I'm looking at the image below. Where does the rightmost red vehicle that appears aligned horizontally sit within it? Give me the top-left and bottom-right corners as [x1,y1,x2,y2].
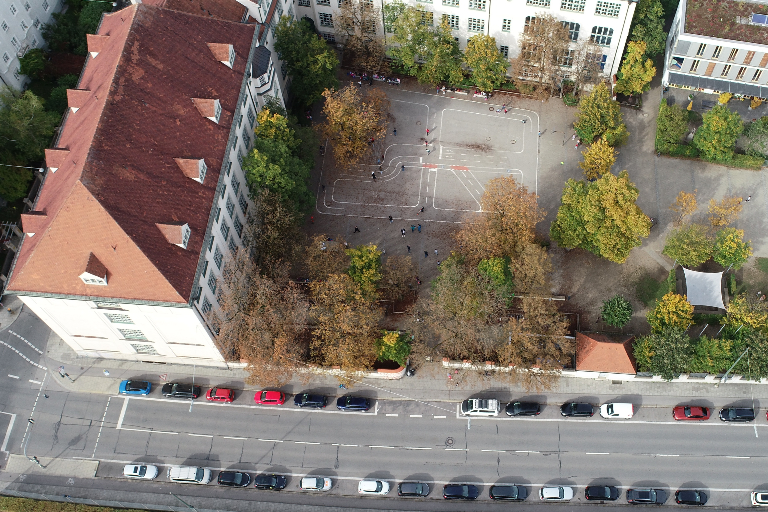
[672,405,710,423]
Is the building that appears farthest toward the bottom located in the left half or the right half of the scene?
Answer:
right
